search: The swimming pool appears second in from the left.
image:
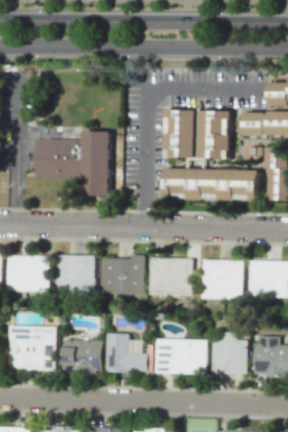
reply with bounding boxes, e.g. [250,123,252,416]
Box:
[70,314,102,338]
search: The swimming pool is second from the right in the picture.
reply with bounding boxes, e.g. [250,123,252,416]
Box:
[113,314,147,334]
